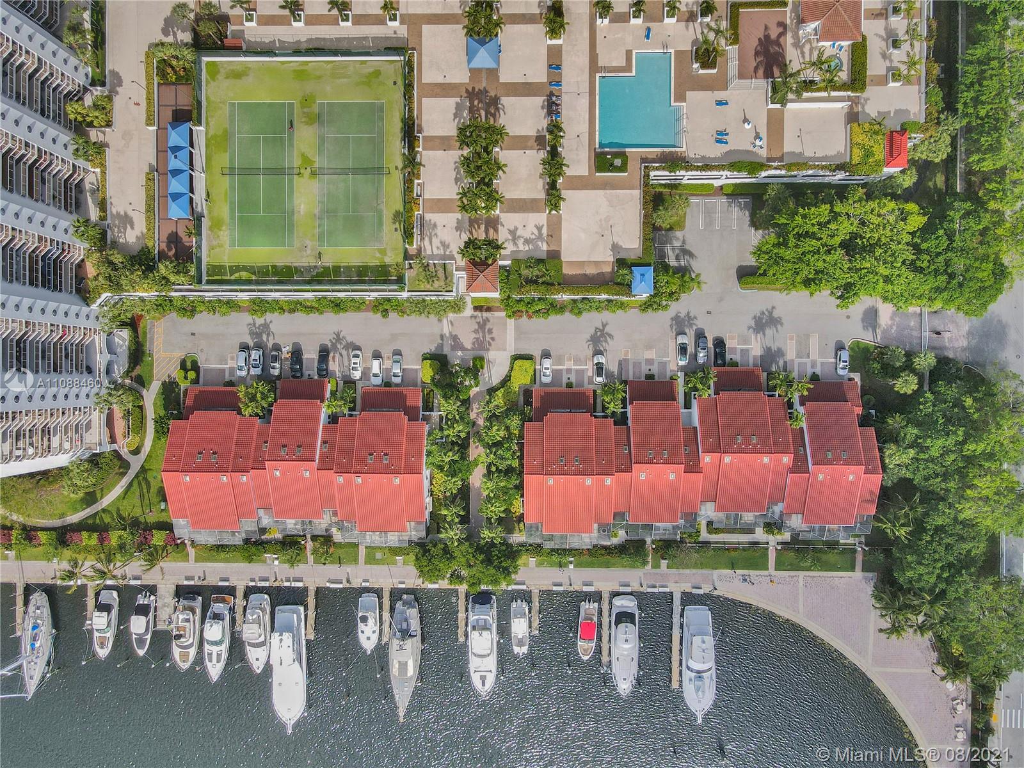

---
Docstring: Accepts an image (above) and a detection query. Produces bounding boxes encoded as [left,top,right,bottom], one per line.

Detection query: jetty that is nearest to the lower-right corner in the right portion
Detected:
[669,590,684,691]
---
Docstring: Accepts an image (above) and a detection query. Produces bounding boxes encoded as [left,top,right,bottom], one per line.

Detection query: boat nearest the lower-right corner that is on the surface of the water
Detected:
[683,604,726,734]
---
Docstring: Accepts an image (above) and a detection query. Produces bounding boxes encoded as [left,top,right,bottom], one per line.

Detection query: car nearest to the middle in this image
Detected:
[540,355,553,383]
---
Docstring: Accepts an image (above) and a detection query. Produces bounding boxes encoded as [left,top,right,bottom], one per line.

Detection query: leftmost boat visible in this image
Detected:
[0,582,54,700]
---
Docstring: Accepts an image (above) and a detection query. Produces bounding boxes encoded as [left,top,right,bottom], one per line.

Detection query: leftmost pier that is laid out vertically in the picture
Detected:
[9,584,30,640]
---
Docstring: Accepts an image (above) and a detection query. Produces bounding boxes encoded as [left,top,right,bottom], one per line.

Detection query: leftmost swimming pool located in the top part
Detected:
[596,46,688,150]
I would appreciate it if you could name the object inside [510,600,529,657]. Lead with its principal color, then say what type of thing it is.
white boat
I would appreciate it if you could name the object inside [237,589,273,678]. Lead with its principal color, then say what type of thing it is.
white boat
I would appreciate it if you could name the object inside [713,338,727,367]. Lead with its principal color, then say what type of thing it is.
black car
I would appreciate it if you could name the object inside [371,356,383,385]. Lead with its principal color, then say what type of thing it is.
white vehicle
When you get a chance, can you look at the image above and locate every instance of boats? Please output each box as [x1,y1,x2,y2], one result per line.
[683,604,726,734]
[0,582,54,700]
[469,593,501,698]
[201,590,235,684]
[510,600,529,657]
[389,586,421,728]
[120,586,158,665]
[237,589,273,678]
[85,585,129,661]
[611,593,640,698]
[346,585,383,672]
[270,600,309,742]
[578,601,599,661]
[171,590,208,672]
